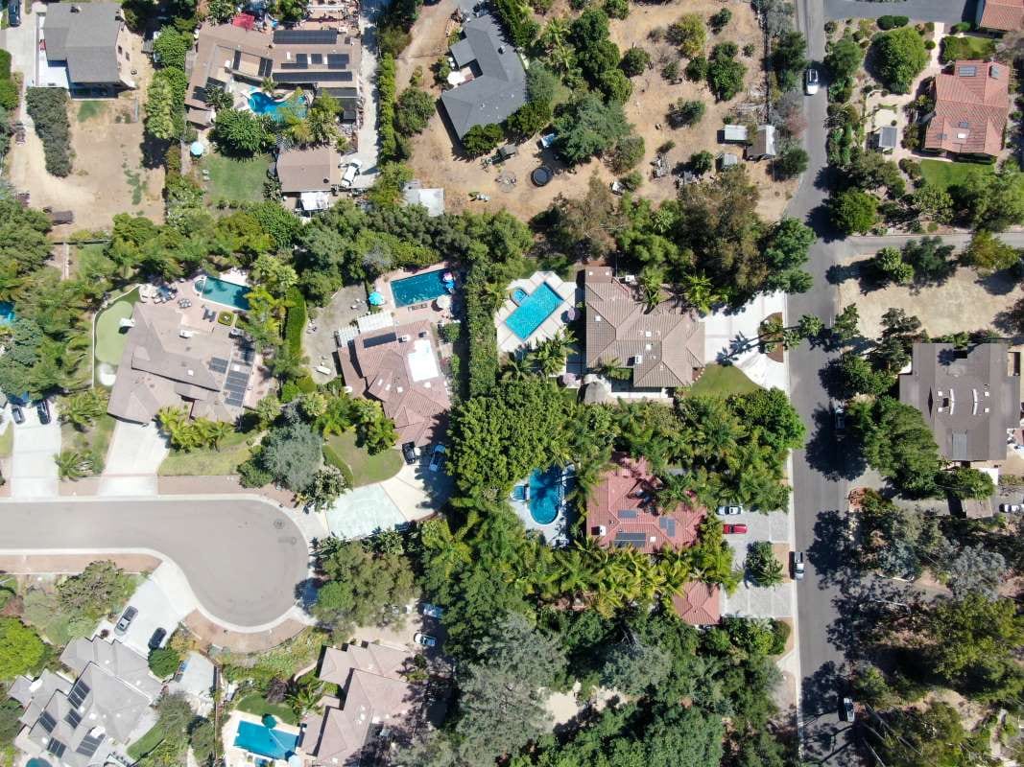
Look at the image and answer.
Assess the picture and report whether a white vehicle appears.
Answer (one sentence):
Yes, a white vehicle can be made out from above.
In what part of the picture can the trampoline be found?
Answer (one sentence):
The trampoline sits in the top section of the image.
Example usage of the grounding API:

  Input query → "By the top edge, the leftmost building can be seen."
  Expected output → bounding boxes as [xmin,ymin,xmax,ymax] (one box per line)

[42,1,136,102]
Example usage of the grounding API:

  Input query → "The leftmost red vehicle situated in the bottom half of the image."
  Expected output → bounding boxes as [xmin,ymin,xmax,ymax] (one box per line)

[723,524,750,536]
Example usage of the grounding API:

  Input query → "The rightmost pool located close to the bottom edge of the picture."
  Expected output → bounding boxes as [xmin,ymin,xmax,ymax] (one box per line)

[231,719,302,762]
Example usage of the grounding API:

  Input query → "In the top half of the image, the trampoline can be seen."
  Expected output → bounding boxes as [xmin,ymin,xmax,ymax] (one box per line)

[531,163,551,185]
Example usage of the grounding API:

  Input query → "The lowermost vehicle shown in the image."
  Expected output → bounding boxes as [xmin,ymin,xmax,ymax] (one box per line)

[843,698,857,725]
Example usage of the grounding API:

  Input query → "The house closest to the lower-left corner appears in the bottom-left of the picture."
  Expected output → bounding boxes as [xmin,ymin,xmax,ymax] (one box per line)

[6,633,170,767]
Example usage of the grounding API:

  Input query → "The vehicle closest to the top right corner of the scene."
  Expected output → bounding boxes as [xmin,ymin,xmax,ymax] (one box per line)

[807,66,821,94]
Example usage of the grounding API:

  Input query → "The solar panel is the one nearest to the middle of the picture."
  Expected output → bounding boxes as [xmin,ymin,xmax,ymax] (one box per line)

[364,333,397,348]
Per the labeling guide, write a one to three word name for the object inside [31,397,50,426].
car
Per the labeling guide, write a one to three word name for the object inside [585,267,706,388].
house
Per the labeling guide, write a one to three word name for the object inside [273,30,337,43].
solar panel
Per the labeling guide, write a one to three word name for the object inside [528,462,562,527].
swimming pool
